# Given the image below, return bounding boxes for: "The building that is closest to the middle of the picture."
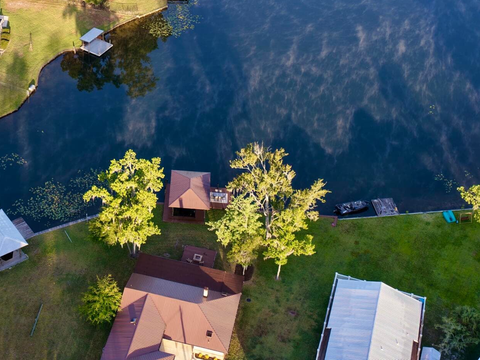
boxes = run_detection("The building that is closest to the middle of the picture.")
[163,170,231,227]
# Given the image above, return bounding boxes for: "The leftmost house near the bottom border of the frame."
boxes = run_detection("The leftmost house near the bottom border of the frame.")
[101,253,245,360]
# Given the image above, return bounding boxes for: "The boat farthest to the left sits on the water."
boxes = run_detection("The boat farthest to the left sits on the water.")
[335,200,367,213]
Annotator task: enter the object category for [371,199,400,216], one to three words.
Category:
pier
